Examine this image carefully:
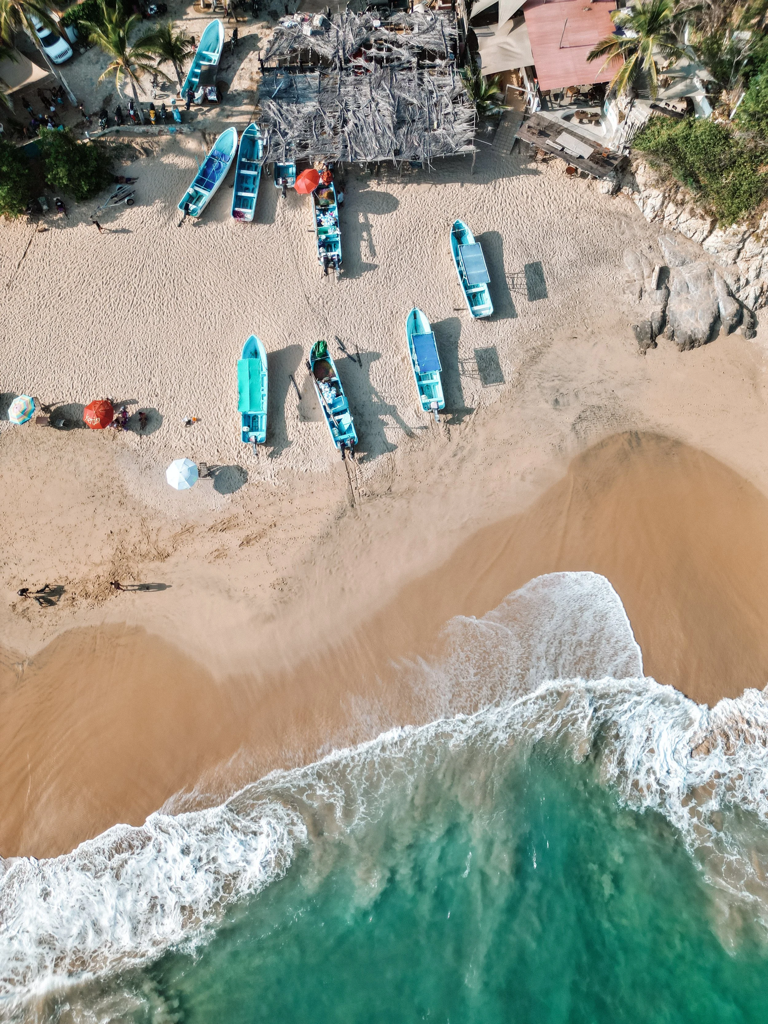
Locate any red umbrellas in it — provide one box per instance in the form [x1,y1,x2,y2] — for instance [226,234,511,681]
[82,398,114,429]
[294,171,320,193]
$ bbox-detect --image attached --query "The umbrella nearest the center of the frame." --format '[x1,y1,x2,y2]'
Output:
[165,456,200,490]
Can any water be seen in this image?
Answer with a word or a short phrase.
Yes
